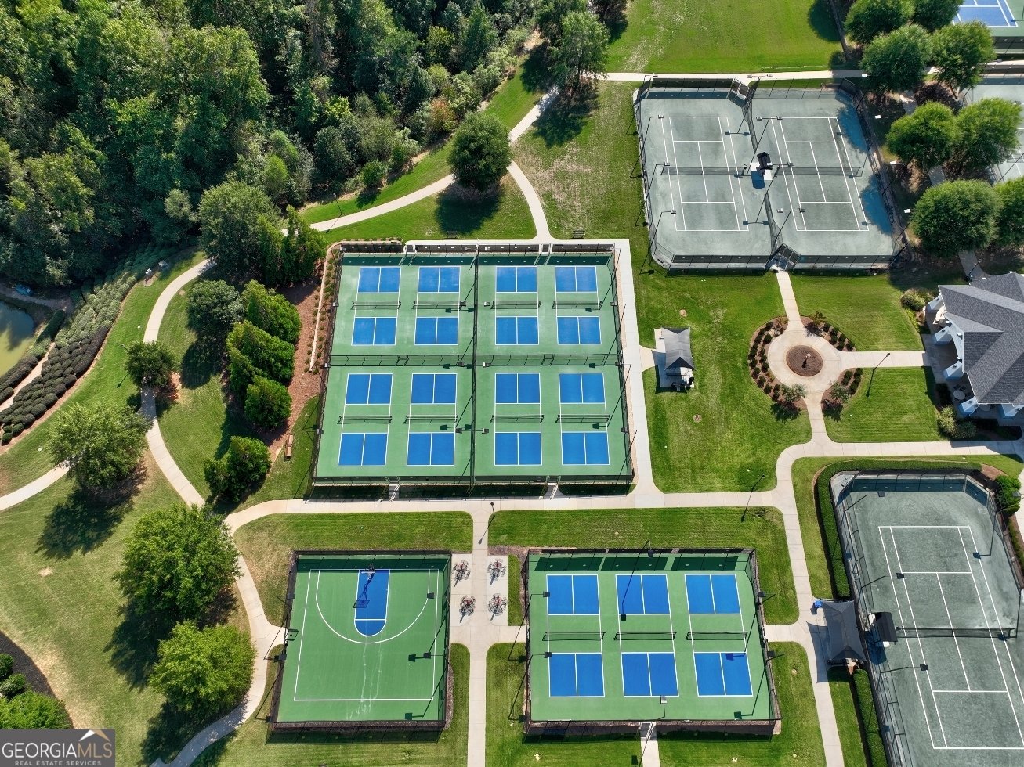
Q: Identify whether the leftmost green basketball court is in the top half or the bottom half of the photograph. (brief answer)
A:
bottom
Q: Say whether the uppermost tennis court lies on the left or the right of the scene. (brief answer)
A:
right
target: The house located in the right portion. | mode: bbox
[928,272,1024,413]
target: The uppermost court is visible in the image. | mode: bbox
[951,0,1021,28]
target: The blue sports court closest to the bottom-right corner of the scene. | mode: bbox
[685,574,753,696]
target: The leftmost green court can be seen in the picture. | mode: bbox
[281,556,452,722]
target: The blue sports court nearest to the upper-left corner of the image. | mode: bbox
[351,266,401,345]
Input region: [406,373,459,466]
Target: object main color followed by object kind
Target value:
blue sports court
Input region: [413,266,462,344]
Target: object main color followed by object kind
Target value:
blue sports court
